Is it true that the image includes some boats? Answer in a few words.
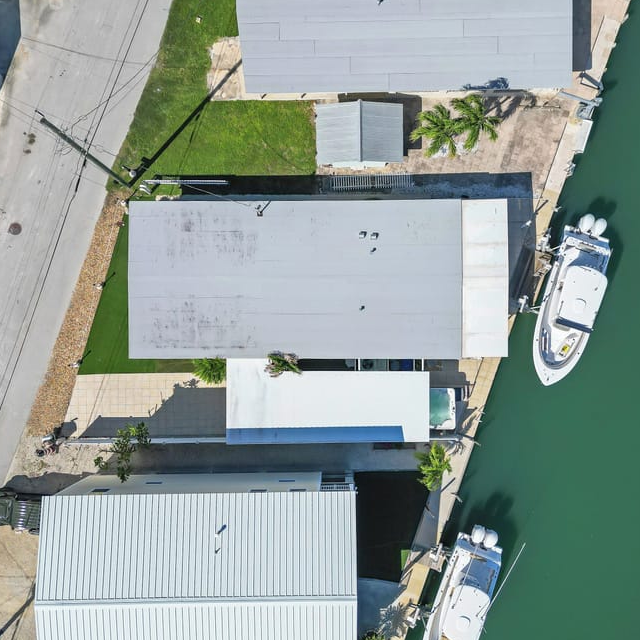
Yes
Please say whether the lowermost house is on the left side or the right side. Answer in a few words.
left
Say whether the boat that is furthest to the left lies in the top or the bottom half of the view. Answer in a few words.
bottom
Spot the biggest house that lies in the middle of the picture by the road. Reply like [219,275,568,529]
[127,198,508,359]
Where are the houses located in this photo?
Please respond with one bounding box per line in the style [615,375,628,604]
[127,198,508,359]
[236,0,576,98]
[34,475,363,640]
